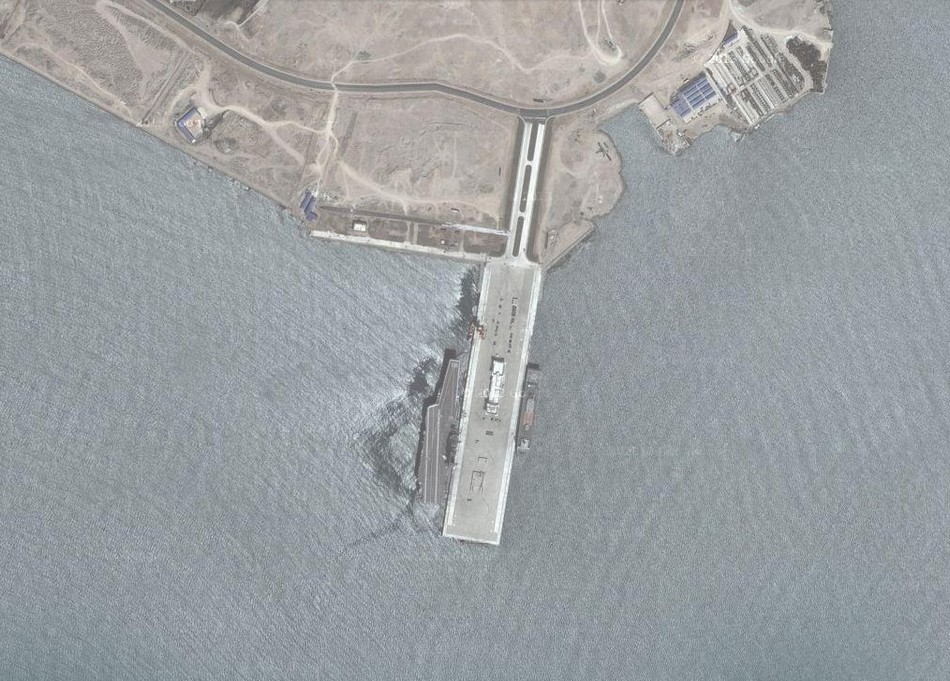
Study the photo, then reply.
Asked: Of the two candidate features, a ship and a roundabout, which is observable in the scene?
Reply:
ship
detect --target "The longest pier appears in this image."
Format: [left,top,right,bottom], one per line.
[443,266,541,545]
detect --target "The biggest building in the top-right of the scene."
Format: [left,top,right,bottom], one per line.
[675,77,720,117]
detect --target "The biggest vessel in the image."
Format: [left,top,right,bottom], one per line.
[417,351,466,516]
